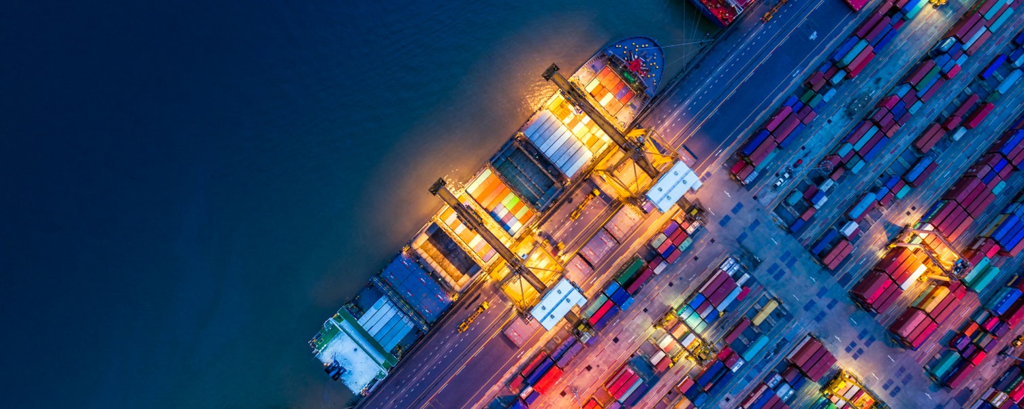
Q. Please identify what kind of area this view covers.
port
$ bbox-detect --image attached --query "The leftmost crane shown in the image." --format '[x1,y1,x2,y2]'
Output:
[430,177,602,346]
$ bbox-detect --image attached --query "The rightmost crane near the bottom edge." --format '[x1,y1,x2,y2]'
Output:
[821,370,885,409]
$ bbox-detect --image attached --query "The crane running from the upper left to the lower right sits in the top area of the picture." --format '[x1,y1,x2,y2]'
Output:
[544,61,714,232]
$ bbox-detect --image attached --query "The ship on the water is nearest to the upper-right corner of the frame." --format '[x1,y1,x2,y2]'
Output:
[688,0,754,27]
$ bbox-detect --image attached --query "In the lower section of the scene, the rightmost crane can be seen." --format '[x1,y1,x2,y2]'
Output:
[887,223,970,283]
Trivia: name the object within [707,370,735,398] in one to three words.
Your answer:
shipping container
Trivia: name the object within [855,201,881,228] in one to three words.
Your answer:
shipping container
